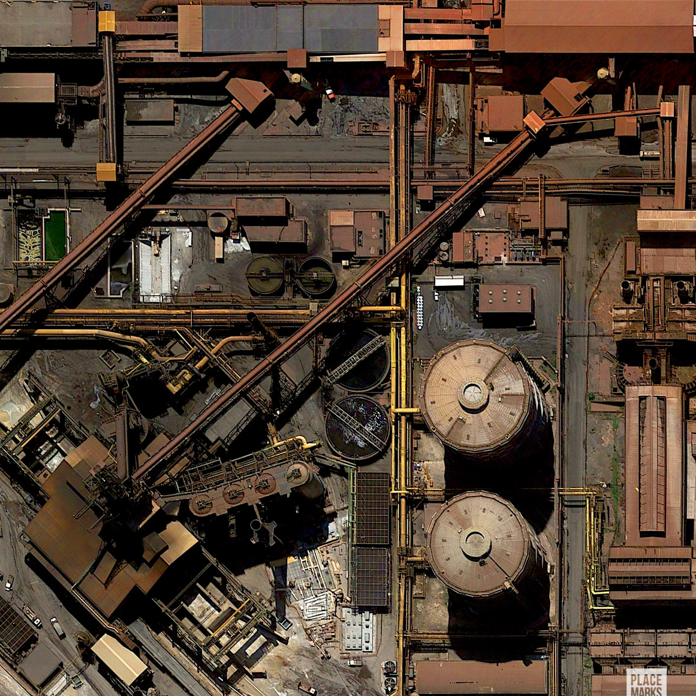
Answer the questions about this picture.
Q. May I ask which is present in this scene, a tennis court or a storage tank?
storage tank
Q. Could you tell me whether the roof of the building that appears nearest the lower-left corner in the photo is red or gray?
gray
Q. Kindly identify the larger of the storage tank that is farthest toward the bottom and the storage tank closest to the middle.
the storage tank that is farthest toward the bottom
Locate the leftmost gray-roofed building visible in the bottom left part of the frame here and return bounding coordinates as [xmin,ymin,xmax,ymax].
[18,641,65,686]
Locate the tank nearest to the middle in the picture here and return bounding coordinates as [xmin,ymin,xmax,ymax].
[325,327,391,394]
